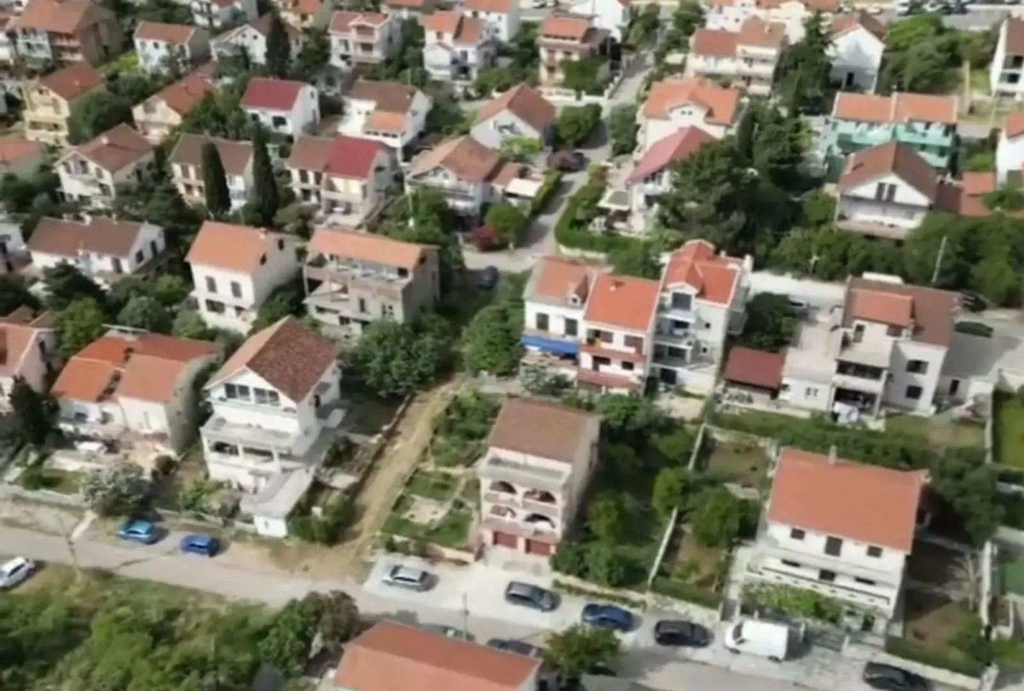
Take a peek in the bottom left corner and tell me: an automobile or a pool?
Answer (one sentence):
Visible in the bottom left corner is an automobile.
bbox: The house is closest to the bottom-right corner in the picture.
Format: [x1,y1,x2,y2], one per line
[755,449,919,634]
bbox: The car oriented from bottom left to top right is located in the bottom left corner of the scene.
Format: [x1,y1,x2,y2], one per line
[0,555,43,591]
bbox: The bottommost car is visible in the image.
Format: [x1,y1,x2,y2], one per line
[863,662,924,691]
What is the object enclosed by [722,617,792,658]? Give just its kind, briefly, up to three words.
van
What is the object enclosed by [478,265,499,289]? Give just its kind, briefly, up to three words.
car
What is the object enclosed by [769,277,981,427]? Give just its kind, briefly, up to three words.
house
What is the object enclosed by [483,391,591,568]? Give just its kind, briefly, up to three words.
house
